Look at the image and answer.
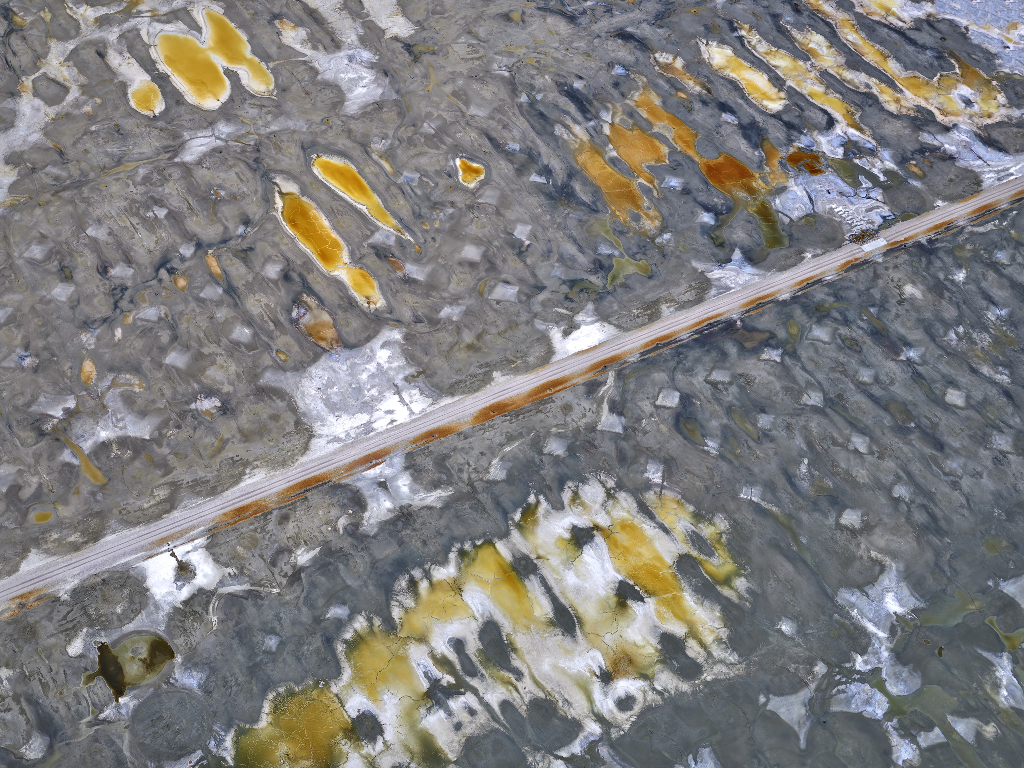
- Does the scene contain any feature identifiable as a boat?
No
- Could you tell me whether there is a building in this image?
No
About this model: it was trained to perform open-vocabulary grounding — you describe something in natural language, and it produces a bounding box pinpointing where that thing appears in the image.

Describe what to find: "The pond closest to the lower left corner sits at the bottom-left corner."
[82,636,175,703]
